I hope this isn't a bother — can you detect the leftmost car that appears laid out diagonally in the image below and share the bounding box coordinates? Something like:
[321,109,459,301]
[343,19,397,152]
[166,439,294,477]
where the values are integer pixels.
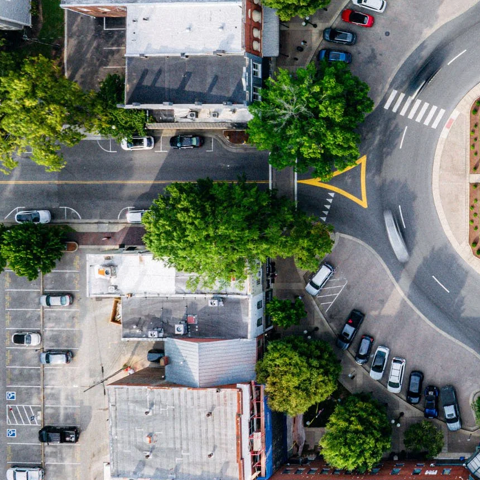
[305,262,335,296]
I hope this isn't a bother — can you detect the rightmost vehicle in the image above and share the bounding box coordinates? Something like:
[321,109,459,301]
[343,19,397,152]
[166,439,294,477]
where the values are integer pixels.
[441,385,463,430]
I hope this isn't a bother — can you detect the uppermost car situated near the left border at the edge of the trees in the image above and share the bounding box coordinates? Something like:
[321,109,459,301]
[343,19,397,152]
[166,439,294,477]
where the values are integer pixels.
[15,208,51,224]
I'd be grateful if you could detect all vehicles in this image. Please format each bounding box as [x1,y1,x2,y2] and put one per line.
[352,0,387,14]
[39,425,83,444]
[384,216,409,256]
[370,345,391,381]
[15,208,51,224]
[410,56,444,94]
[39,350,74,367]
[406,370,424,405]
[386,357,405,393]
[305,262,335,296]
[11,332,43,348]
[7,465,48,480]
[121,135,157,152]
[40,293,75,309]
[170,134,205,151]
[338,307,367,350]
[323,26,359,47]
[343,8,375,28]
[423,386,440,417]
[355,334,375,365]
[441,385,463,430]
[124,207,161,225]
